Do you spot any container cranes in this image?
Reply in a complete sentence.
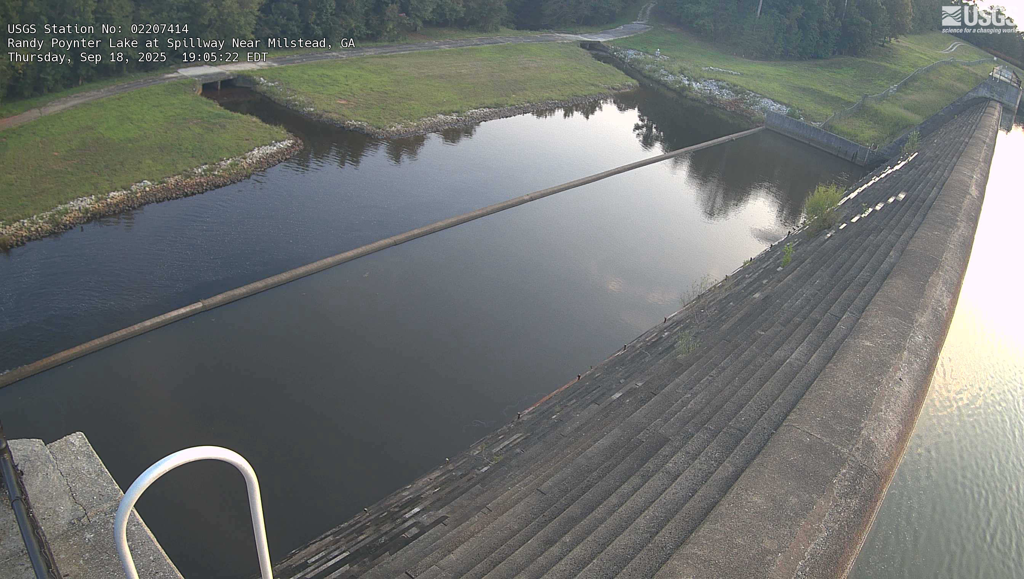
No, the scene contains no container crane.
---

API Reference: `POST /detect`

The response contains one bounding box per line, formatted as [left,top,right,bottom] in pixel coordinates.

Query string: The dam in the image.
[0,125,767,382]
